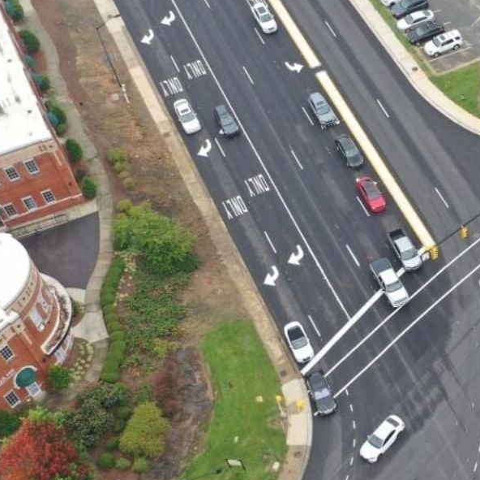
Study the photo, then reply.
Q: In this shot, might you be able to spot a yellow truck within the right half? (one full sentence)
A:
No, I see no yellow truck within the right half.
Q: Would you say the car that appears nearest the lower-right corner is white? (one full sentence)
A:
Yes, white is the color of the car that appears nearest the lower-right corner.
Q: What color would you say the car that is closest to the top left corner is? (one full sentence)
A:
In this view, the car that is closest to the top left corner is white.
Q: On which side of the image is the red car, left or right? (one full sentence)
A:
The red car sits on the right side.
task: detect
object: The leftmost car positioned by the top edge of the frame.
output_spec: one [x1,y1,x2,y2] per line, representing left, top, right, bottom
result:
[252,1,278,31]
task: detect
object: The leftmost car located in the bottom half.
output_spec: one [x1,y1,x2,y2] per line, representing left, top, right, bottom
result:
[282,320,316,366]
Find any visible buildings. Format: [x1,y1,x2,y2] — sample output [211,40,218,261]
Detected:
[0,0,84,226]
[0,228,81,424]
